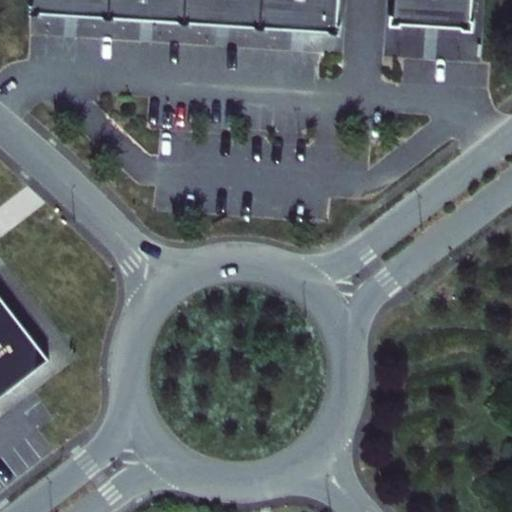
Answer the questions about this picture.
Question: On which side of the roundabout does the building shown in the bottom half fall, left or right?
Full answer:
Relative to the roundabout, the building shown in the bottom half lies to the left.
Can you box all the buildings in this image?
[0,296,48,396]
[388,0,476,34]
[30,0,344,34]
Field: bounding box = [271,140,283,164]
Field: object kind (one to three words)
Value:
vehicle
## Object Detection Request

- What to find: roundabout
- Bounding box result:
[113,245,365,497]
